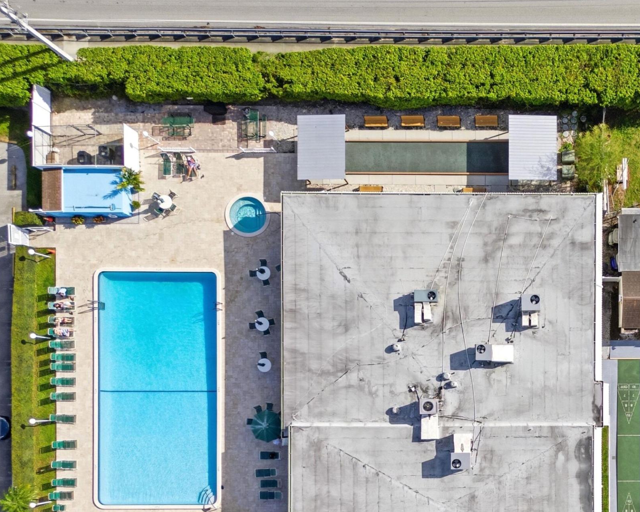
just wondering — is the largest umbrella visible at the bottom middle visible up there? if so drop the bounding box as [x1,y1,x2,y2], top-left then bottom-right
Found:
[254,413,283,442]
